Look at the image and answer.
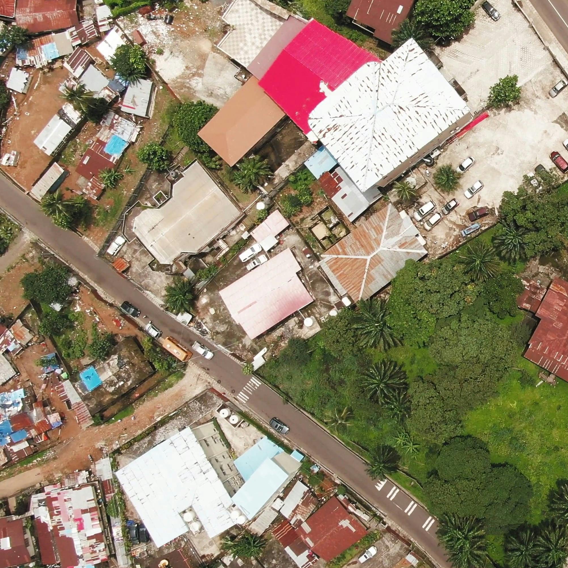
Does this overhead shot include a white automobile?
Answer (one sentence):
Yes, the photo shows a white automobile.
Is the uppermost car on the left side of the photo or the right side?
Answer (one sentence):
The uppermost car appears in the right half of the scene.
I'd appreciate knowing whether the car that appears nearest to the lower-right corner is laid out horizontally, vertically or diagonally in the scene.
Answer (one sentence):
The car that appears nearest to the lower-right corner is oriented diagonally.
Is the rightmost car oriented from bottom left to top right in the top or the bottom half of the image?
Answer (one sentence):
It is in the top half that the rightmost car oriented from bottom left to top right appears.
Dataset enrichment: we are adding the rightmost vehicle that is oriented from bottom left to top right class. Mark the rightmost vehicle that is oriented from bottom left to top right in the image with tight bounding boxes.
[548,77,568,99]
